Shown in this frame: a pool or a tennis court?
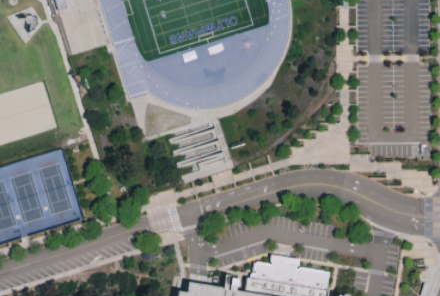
tennis court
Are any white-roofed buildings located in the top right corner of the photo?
No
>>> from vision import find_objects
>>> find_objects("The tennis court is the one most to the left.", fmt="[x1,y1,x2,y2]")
[0,182,15,232]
